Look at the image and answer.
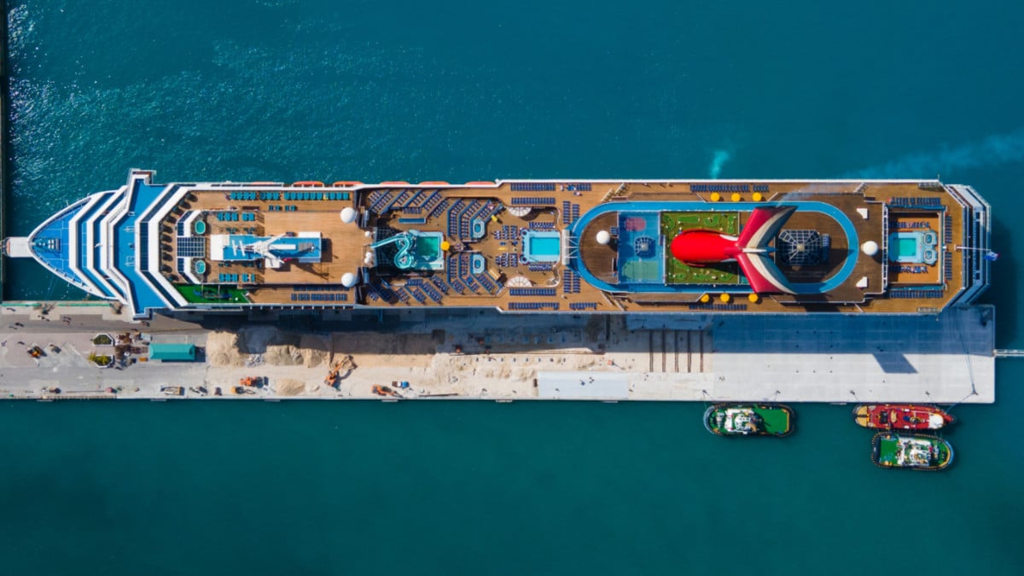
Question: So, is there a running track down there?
Yes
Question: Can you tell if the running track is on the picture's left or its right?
right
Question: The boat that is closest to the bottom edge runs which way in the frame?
horizontally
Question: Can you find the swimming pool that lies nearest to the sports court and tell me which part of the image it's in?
center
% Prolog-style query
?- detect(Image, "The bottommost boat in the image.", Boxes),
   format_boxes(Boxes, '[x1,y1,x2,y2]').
[870,431,956,470]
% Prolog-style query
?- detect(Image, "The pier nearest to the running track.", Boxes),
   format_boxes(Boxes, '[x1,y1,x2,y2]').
[0,300,996,406]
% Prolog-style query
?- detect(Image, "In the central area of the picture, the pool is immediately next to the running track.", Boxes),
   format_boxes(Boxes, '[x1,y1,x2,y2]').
[519,227,560,266]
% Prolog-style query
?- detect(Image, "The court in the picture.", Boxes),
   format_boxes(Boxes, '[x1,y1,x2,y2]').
[616,212,669,284]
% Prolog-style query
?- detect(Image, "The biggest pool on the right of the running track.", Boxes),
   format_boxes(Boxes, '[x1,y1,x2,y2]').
[890,231,922,263]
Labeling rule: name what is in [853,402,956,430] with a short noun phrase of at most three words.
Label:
boat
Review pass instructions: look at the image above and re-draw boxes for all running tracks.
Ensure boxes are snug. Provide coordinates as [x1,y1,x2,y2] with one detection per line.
[573,202,858,293]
